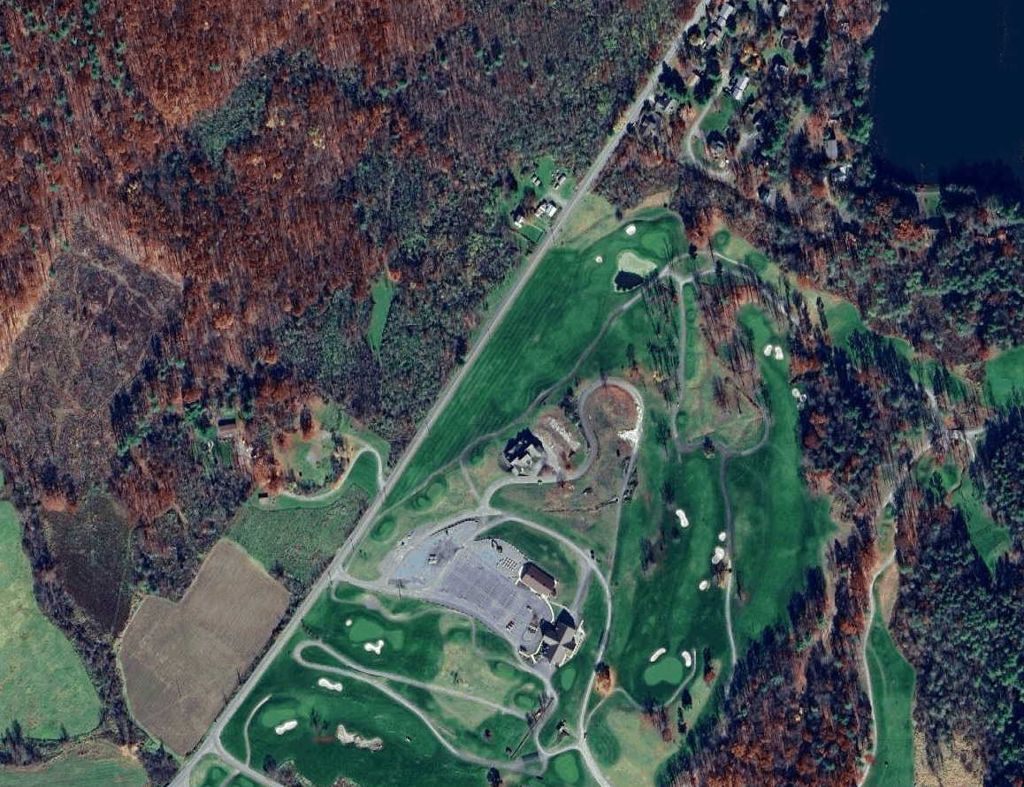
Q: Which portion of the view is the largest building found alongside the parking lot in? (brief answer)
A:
bottom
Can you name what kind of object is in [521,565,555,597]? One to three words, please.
barn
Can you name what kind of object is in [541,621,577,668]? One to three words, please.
building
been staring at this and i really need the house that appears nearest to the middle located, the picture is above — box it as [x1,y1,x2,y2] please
[505,437,539,476]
